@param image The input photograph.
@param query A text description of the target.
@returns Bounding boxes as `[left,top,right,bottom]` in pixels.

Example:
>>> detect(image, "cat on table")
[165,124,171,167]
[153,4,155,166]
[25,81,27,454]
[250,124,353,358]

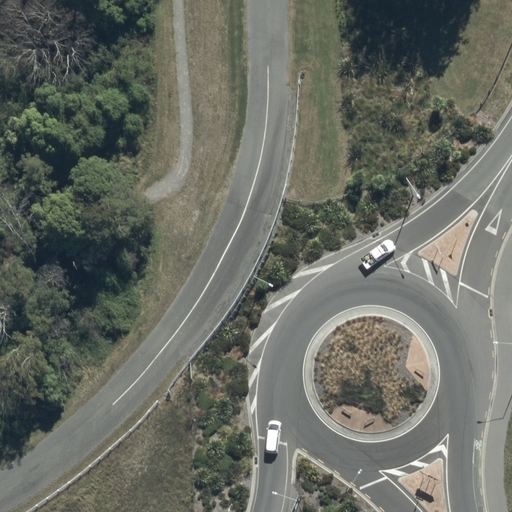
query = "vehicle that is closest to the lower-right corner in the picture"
[266,420,282,456]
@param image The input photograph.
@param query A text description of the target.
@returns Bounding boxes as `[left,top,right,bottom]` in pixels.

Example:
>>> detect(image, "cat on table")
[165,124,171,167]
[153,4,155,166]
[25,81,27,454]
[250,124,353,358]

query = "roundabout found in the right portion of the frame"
[248,106,512,512]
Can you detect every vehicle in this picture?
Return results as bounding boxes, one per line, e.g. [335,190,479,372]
[360,240,396,269]
[266,420,282,456]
